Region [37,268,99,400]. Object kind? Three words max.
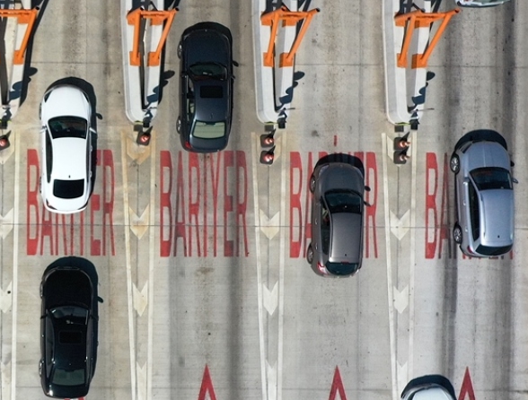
car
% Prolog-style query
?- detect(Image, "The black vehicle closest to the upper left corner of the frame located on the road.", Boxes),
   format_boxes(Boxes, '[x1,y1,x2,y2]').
[177,28,239,152]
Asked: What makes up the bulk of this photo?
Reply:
paved ground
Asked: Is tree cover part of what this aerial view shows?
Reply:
No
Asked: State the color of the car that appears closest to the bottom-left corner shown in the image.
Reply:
black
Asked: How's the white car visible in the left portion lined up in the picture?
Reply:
from top to bottom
